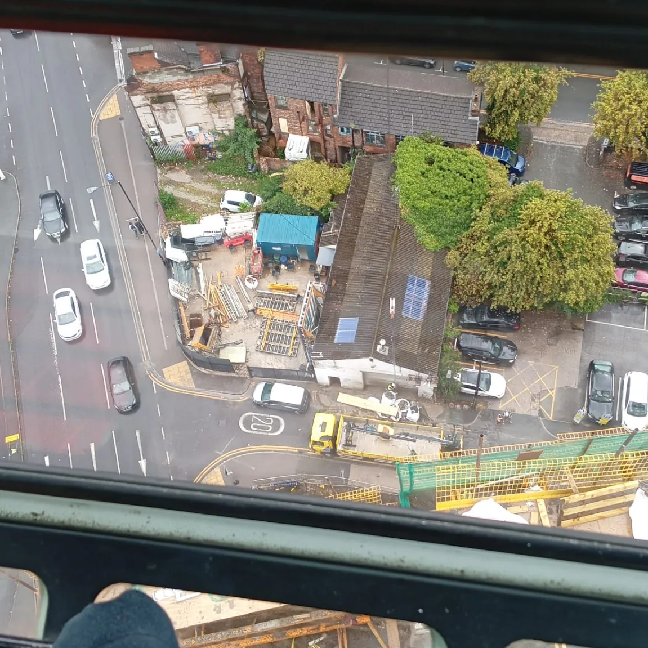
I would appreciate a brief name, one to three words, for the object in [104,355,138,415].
car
